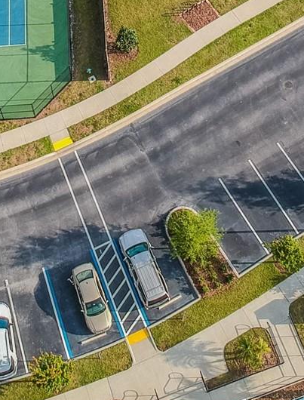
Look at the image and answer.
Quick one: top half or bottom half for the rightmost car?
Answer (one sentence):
It is in the bottom half that the rightmost car appears.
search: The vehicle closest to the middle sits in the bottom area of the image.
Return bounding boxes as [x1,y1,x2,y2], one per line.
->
[121,231,167,306]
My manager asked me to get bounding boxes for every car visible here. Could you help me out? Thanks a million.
[0,302,19,380]
[121,231,167,306]
[72,263,113,336]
